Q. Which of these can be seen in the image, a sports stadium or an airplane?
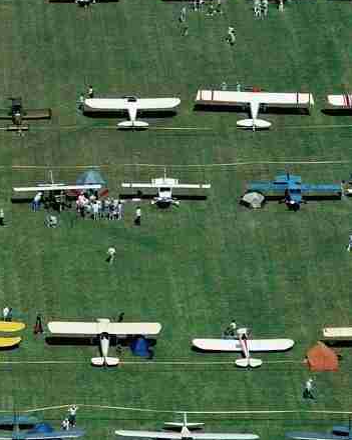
airplane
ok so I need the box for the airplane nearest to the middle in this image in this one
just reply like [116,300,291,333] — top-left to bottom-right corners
[122,170,211,209]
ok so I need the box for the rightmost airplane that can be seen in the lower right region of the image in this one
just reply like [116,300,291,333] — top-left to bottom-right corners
[322,326,352,344]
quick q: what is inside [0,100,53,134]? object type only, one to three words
airplane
